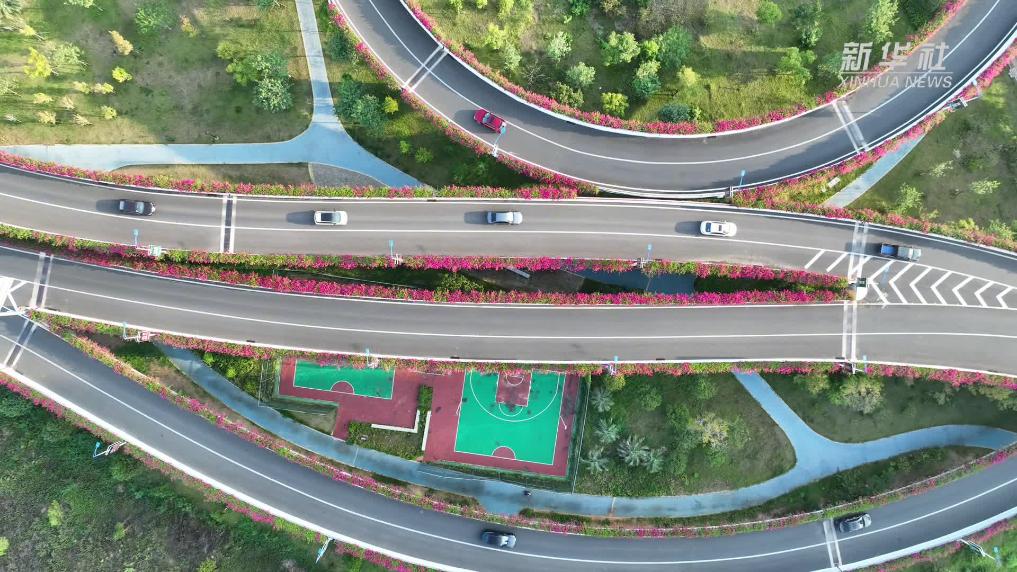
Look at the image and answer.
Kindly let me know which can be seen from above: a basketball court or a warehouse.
basketball court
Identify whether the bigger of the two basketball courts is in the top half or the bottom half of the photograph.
bottom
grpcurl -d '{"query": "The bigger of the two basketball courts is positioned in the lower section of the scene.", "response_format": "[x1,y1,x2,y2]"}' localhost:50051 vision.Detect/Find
[454,371,566,465]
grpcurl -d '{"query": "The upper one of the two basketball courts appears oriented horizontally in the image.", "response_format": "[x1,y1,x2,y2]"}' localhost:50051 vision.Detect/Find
[293,360,396,399]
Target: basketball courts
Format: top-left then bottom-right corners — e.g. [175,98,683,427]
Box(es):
[293,360,396,399]
[454,371,566,465]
